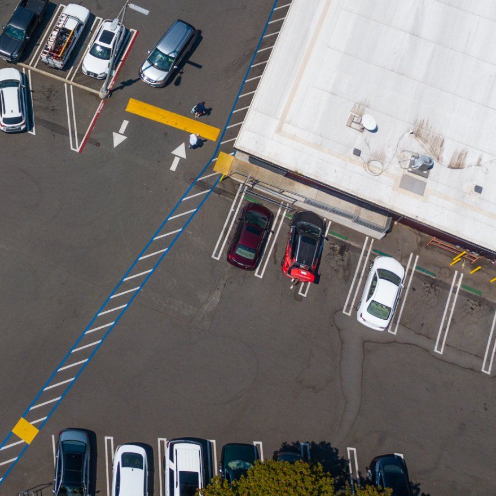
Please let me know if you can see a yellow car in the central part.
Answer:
No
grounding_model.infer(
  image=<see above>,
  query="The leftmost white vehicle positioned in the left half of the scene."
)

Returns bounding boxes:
[0,70,27,134]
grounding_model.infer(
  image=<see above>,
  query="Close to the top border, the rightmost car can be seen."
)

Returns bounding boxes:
[143,19,196,90]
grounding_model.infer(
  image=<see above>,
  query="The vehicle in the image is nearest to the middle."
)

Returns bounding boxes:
[226,201,274,274]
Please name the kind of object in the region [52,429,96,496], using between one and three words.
car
